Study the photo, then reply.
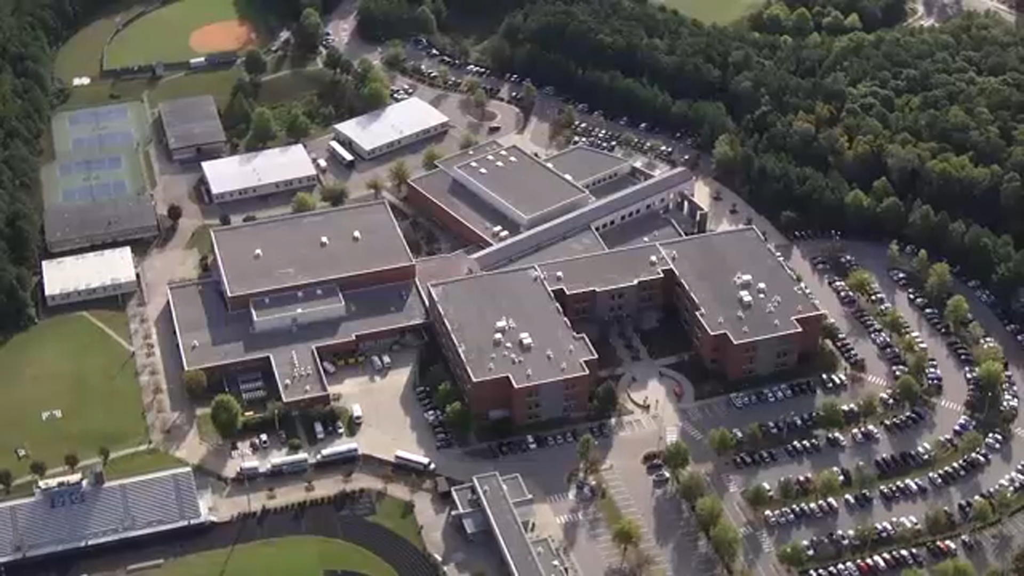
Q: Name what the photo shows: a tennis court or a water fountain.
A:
tennis court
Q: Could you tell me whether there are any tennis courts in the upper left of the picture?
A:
Yes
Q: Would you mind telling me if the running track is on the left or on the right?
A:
left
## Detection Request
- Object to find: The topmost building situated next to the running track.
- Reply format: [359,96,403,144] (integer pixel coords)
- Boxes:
[168,141,827,424]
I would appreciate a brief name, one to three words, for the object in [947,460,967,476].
vehicle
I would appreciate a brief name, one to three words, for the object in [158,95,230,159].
building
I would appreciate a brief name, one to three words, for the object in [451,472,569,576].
building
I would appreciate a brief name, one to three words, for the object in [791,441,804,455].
vehicle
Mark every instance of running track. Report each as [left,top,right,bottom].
[3,508,438,576]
